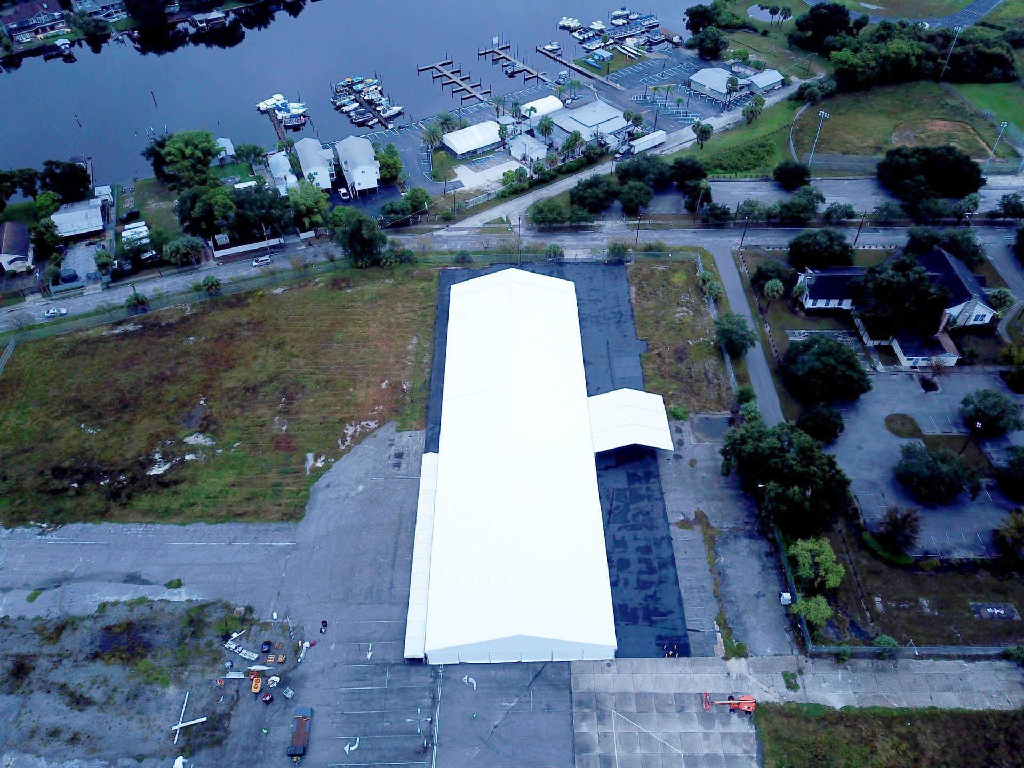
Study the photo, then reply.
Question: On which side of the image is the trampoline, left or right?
left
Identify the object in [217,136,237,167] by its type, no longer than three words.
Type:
building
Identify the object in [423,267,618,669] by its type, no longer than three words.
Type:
tent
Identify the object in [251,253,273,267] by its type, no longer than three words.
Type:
car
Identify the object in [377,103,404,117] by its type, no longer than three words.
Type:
boat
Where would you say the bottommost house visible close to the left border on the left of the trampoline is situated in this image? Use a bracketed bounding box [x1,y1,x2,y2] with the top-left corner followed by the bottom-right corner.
[0,212,54,276]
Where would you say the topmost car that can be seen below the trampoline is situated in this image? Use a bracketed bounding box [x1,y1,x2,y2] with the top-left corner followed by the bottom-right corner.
[44,306,68,318]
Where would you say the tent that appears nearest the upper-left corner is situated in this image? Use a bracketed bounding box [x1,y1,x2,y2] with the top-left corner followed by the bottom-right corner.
[437,120,503,164]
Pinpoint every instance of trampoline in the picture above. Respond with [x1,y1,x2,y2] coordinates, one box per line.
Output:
[53,263,78,284]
